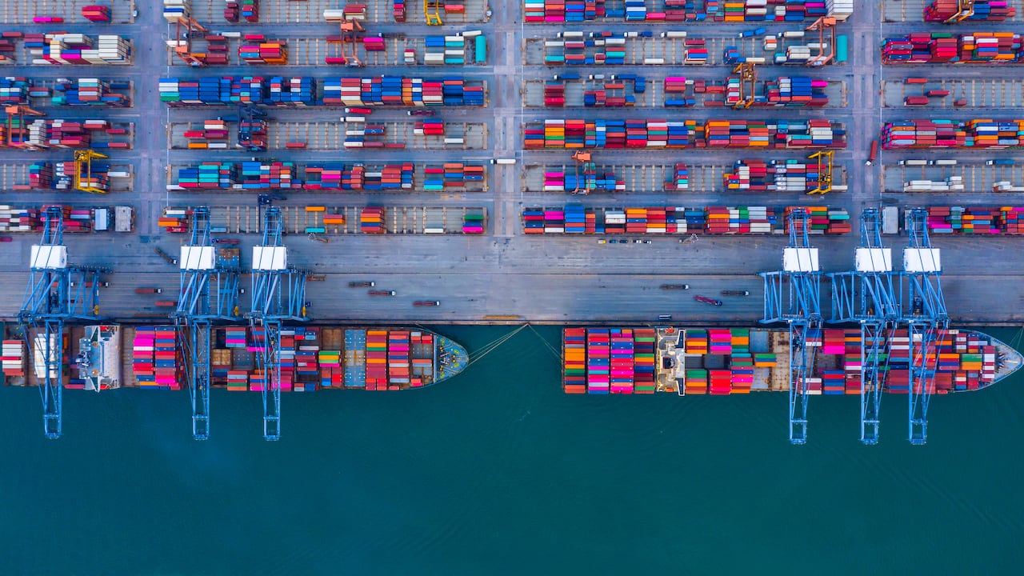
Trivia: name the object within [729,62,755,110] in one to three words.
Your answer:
container crane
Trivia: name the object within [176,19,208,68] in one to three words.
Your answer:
container crane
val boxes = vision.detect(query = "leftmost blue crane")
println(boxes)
[17,204,108,439]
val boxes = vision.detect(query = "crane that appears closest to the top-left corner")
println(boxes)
[6,106,44,151]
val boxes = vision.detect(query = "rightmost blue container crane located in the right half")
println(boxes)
[882,207,950,445]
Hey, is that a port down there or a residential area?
port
